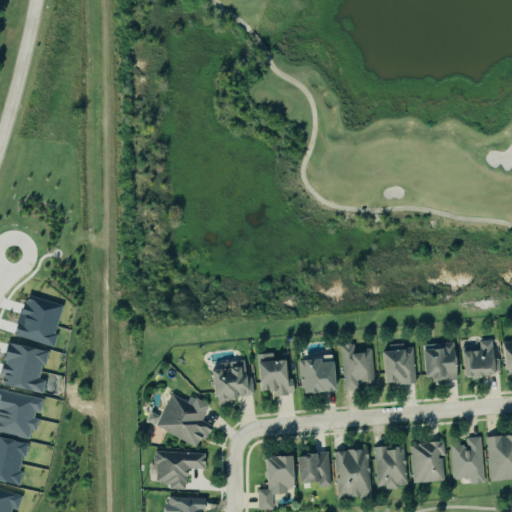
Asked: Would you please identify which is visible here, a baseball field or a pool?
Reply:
pool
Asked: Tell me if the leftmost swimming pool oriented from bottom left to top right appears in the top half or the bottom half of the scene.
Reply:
bottom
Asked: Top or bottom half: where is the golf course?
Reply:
top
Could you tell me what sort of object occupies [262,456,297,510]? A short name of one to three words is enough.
house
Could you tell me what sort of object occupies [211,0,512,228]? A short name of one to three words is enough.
golf course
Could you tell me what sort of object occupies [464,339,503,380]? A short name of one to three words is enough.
house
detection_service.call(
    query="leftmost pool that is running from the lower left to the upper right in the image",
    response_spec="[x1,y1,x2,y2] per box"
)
[143,387,172,415]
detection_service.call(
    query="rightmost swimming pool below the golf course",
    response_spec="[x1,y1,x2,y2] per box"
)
[302,342,329,355]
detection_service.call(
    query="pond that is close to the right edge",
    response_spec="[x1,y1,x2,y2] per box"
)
[339,0,512,82]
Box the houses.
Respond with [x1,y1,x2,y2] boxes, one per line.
[412,441,446,483]
[464,339,503,380]
[146,394,214,448]
[214,356,256,404]
[0,490,24,512]
[452,436,486,483]
[0,388,44,439]
[300,354,338,396]
[262,456,297,510]
[300,450,334,489]
[258,352,296,392]
[384,343,417,384]
[0,344,46,394]
[0,436,30,487]
[426,340,459,382]
[374,446,408,489]
[14,297,64,352]
[154,452,206,490]
[342,344,376,392]
[336,449,373,500]
[164,498,207,512]
[488,434,512,482]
